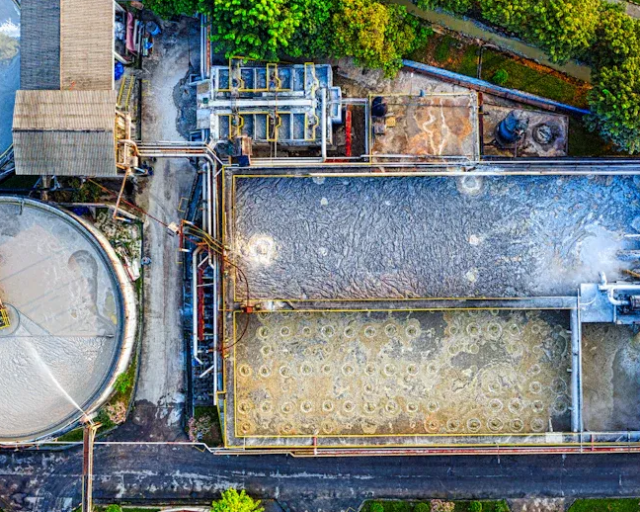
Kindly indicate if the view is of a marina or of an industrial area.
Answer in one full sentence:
What you see here is an industrial area.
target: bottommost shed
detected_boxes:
[12,92,137,178]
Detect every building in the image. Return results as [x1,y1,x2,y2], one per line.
[12,92,137,178]
[21,0,132,96]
